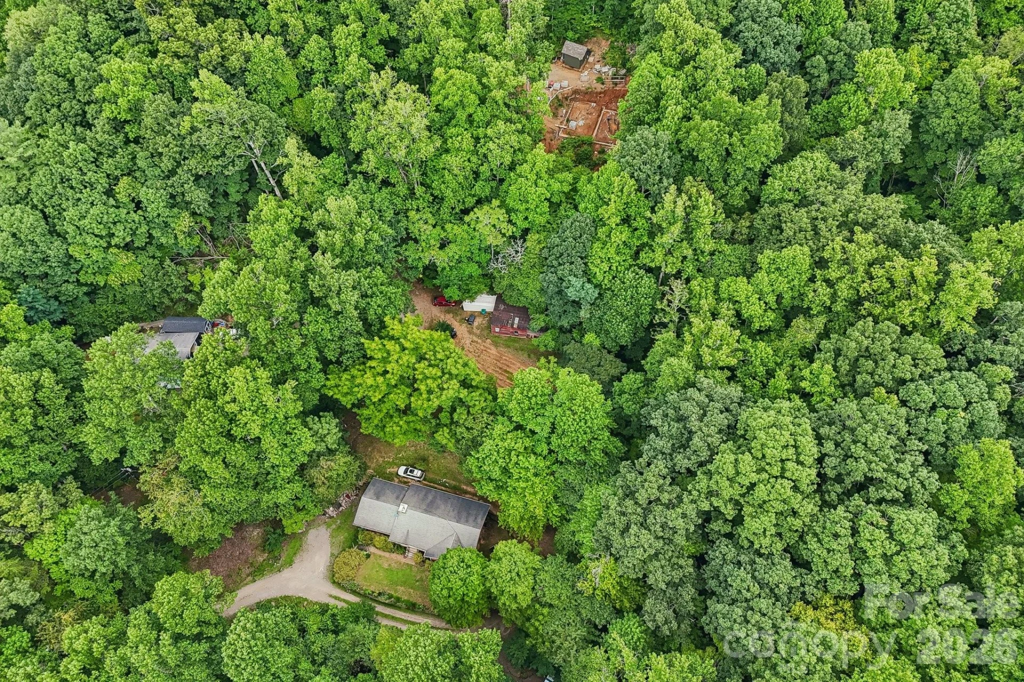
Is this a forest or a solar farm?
forest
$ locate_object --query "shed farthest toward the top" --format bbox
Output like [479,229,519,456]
[562,46,589,71]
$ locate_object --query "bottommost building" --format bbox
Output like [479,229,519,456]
[354,477,489,560]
